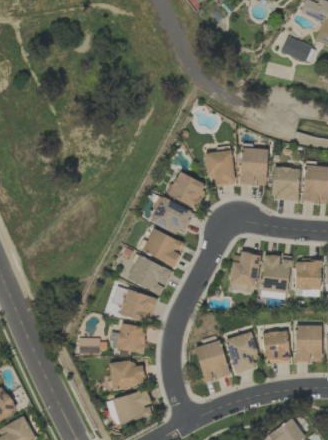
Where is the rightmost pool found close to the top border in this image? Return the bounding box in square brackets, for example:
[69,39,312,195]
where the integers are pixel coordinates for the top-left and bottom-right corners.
[295,14,314,30]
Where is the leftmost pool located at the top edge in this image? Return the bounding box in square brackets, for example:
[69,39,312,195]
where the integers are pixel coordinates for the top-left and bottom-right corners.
[252,4,274,20]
